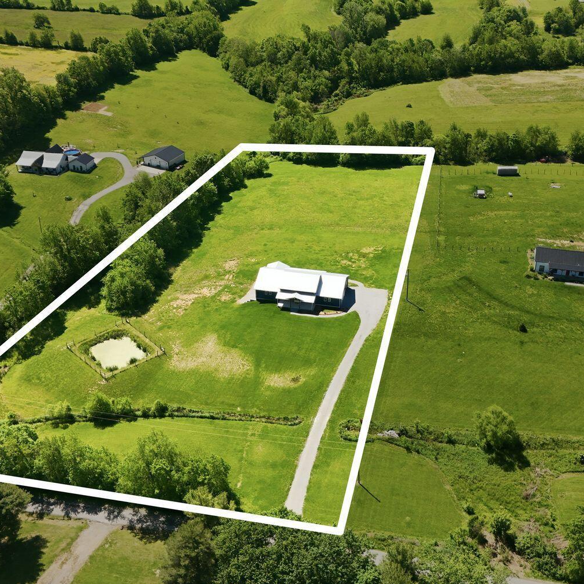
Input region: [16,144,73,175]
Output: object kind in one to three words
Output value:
house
